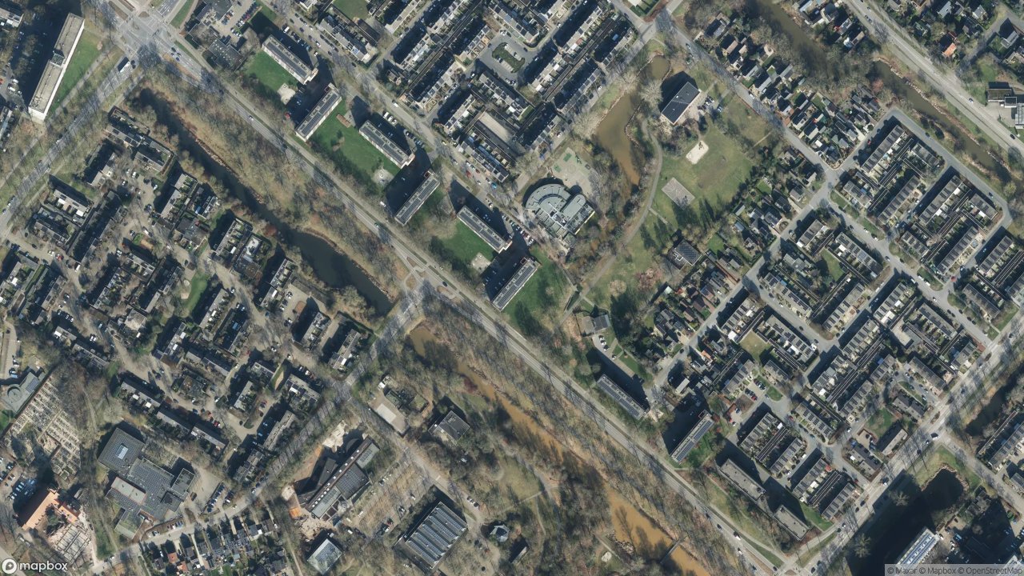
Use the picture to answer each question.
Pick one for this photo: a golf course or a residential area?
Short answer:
residential area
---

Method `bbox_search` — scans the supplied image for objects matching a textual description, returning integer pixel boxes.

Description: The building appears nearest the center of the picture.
[492,257,539,315]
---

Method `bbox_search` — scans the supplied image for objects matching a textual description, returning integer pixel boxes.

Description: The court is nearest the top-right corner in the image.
[662,178,695,210]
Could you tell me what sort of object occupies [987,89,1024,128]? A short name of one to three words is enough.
building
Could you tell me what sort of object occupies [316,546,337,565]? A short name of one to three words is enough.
solar array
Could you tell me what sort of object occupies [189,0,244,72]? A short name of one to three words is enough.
building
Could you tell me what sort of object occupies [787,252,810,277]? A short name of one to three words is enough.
house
